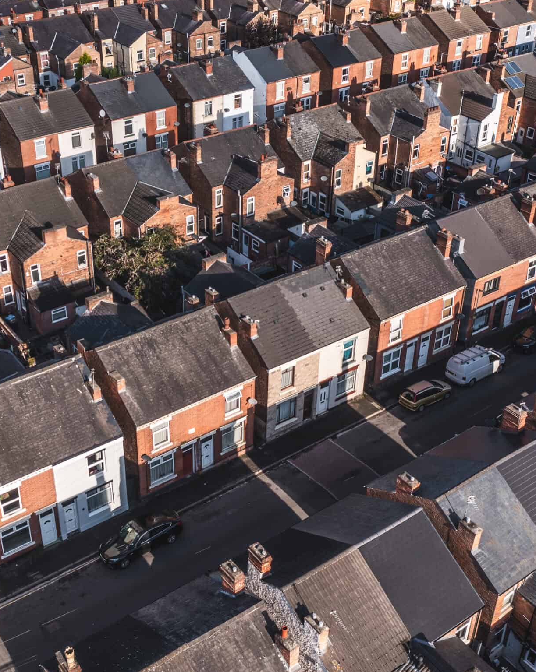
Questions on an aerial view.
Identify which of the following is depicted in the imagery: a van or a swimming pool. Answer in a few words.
van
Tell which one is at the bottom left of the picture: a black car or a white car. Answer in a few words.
black car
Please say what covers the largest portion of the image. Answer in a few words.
buildings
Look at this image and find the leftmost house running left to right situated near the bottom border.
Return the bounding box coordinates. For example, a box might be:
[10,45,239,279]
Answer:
[38,560,304,672]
